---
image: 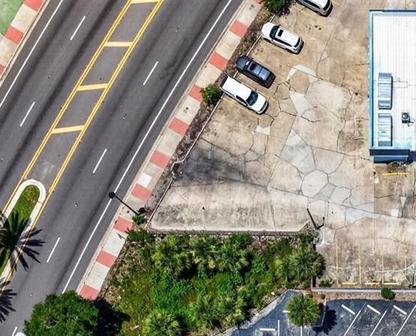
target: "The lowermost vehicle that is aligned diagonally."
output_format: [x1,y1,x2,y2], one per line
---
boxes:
[217,72,270,116]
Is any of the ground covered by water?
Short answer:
No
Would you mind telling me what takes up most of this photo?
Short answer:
paved ground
